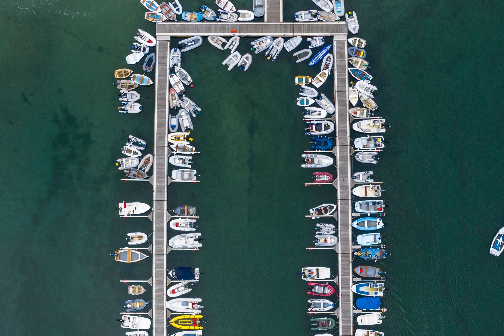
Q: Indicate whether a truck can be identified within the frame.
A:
No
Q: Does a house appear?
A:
No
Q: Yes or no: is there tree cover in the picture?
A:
No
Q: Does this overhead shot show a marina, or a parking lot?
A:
marina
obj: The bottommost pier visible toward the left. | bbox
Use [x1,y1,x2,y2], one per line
[152,254,167,336]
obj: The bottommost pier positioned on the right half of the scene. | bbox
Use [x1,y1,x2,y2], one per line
[337,253,353,335]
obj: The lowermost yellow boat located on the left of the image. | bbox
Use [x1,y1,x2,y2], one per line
[168,314,203,330]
